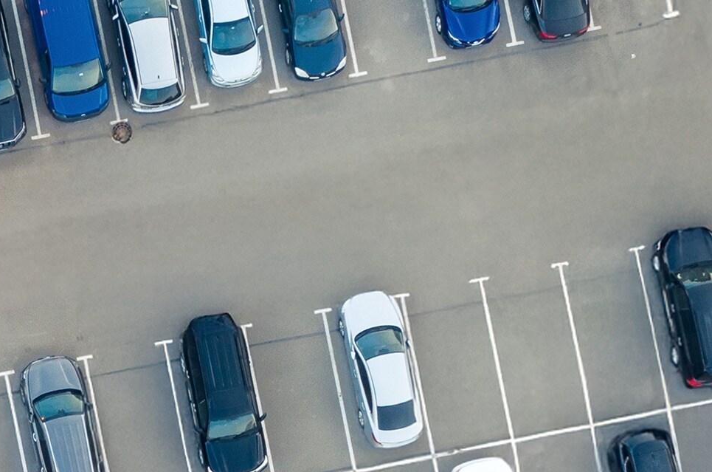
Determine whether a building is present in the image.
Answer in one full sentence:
No, the frame has no building in it.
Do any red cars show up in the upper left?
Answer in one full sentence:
No, in the upper left there is no red car.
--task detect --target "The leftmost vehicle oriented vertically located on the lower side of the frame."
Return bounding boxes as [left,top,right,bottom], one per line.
[25,354,103,472]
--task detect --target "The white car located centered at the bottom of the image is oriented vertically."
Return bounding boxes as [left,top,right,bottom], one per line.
[343,290,428,450]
